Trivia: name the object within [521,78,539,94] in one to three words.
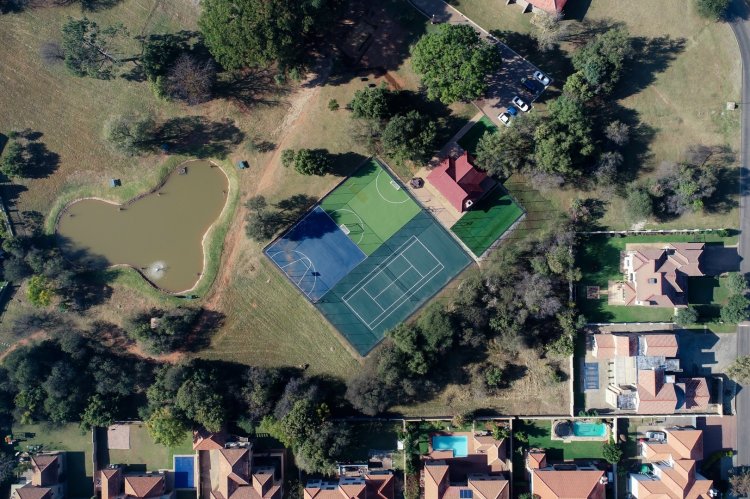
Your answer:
car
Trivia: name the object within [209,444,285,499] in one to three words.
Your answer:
house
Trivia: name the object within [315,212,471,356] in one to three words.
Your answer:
tennis court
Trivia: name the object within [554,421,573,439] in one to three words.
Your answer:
swimming pool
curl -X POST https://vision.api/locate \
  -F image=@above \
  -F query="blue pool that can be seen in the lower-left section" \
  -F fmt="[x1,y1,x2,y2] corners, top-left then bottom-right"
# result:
[172,455,196,489]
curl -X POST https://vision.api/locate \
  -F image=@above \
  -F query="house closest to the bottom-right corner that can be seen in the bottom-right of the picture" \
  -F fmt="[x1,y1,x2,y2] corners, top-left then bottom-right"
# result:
[631,424,713,499]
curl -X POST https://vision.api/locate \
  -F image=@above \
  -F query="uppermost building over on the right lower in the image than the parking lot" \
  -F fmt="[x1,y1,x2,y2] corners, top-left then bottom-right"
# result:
[426,151,489,213]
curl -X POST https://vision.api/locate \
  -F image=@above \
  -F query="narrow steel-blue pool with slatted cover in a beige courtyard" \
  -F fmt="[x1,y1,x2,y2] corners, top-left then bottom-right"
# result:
[584,361,600,390]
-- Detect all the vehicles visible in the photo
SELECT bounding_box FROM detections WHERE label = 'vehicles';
[533,70,552,86]
[497,112,512,127]
[505,105,519,118]
[512,96,529,111]
[521,78,539,94]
